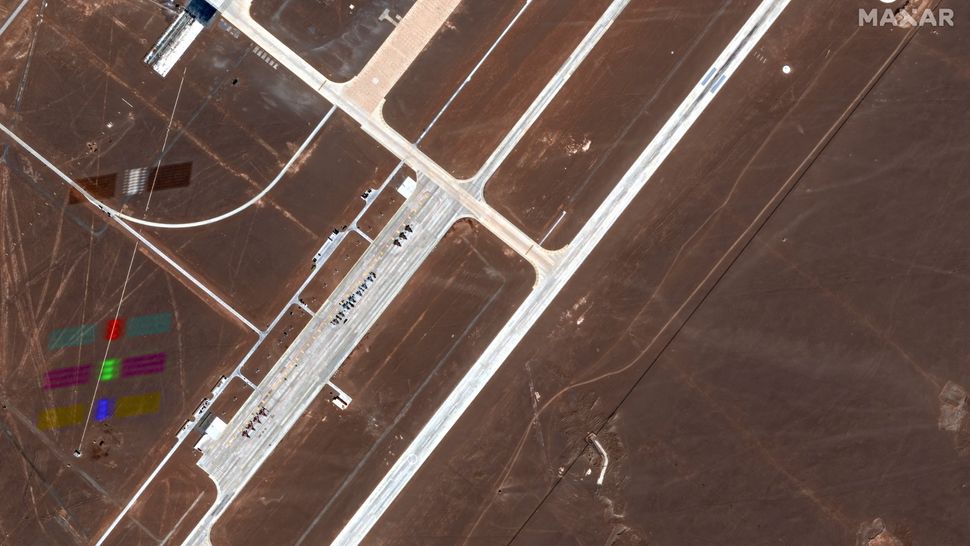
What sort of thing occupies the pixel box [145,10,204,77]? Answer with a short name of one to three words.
hangar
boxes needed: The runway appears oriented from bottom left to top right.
[331,0,791,546]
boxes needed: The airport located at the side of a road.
[179,0,791,546]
